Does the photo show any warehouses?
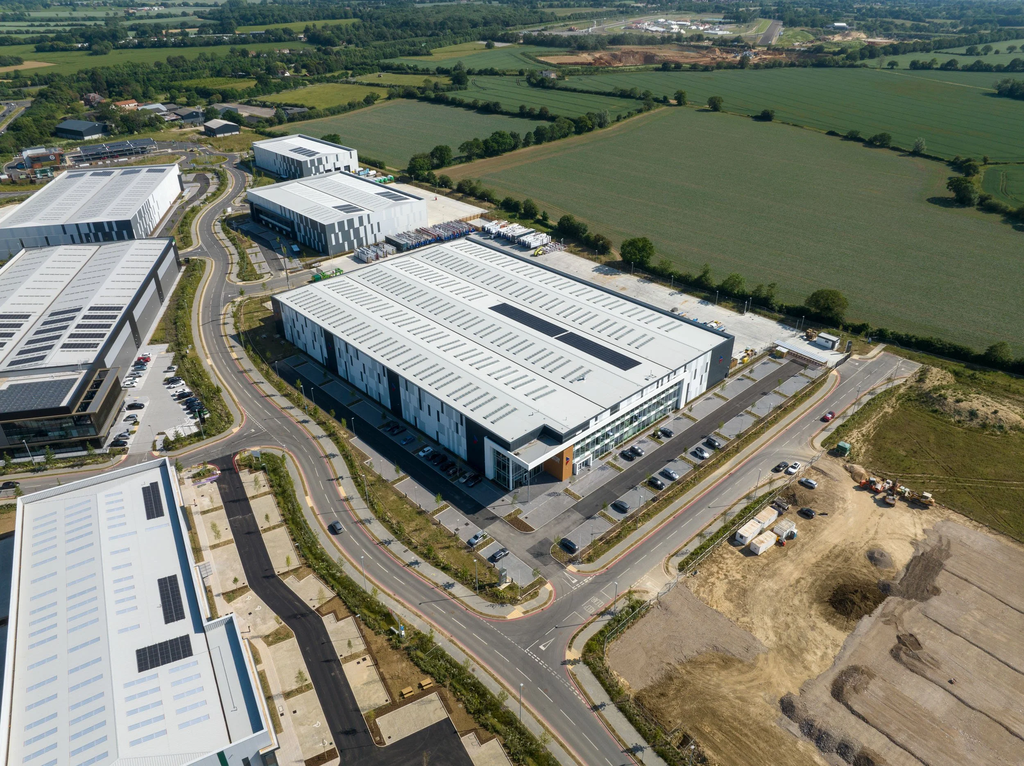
Yes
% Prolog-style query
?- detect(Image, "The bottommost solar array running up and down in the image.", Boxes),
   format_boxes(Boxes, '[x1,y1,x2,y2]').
[158,575,185,625]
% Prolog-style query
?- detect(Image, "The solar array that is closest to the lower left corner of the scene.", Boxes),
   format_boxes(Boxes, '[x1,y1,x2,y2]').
[135,634,193,673]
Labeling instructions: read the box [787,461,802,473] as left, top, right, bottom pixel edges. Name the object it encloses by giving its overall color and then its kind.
white vehicle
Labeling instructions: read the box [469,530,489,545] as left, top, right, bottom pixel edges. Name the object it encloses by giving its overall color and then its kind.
gray car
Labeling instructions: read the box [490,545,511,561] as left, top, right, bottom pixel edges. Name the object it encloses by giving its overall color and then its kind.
gray car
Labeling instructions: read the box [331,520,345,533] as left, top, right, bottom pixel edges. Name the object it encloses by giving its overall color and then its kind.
gray vehicle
